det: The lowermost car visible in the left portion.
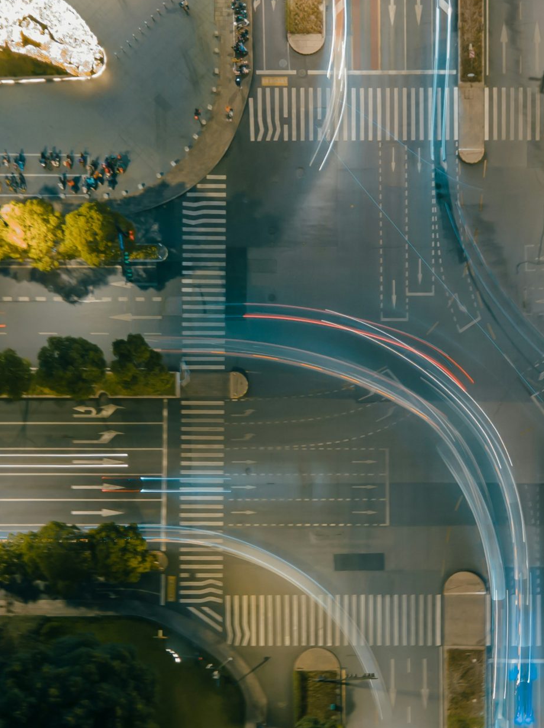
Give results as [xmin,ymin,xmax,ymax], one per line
[163,528,206,548]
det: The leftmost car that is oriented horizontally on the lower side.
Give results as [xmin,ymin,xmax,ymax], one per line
[84,451,129,471]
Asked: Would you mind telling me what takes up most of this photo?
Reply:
paved ground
